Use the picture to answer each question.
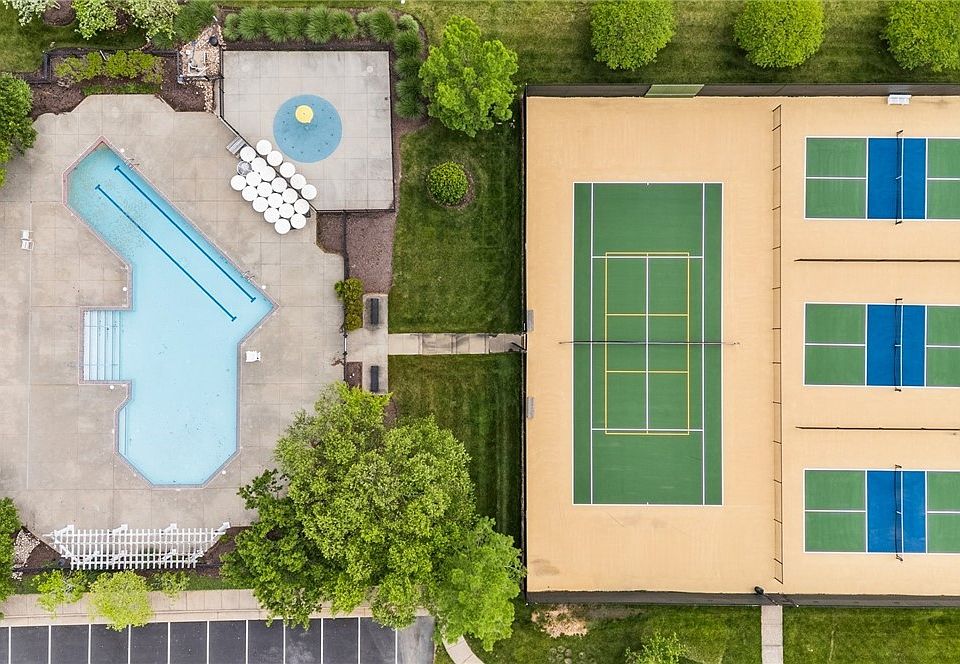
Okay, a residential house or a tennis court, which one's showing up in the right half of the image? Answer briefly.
tennis court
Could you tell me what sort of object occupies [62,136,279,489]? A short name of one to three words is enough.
swimming pool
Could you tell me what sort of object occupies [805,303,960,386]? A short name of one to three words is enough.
sports court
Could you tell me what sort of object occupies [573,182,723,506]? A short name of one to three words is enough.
tennis court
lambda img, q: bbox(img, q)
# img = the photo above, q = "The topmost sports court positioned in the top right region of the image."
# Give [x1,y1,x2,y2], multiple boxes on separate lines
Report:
[805,137,960,219]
